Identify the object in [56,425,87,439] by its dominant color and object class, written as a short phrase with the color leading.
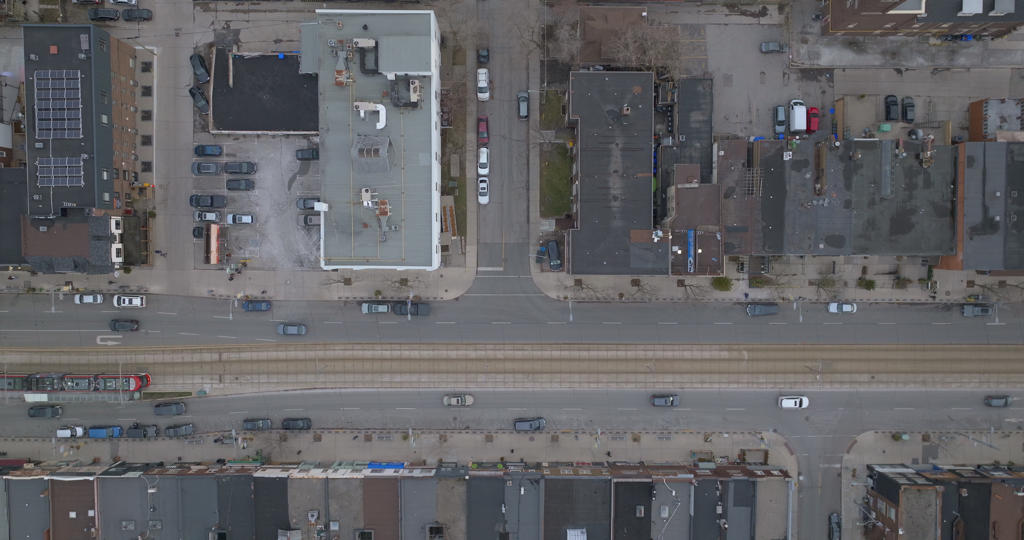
white car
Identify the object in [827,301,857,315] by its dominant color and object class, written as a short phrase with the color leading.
white car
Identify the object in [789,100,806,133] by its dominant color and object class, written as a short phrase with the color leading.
white vehicle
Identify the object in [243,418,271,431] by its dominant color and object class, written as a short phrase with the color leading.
gray vehicle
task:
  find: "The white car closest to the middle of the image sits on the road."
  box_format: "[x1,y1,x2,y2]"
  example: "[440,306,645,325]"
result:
[477,177,490,204]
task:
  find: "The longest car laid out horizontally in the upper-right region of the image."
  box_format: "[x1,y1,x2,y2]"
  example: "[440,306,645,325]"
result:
[760,40,789,54]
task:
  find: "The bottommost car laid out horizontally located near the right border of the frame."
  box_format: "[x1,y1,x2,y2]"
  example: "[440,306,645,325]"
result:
[983,395,1012,409]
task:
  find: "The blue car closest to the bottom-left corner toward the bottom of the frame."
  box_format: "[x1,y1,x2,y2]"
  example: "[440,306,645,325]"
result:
[89,424,123,440]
